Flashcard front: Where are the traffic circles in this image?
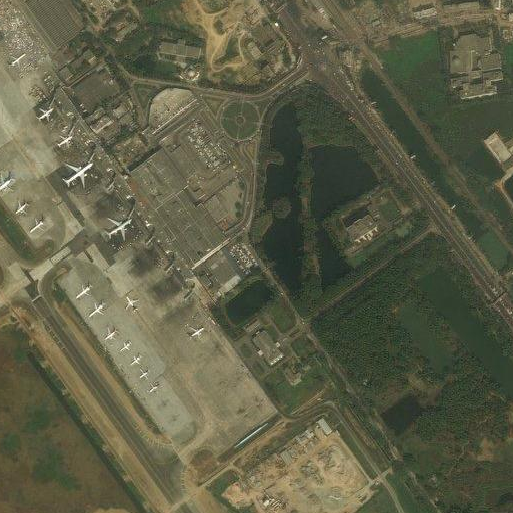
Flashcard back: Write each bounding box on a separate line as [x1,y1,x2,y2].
[221,101,260,139]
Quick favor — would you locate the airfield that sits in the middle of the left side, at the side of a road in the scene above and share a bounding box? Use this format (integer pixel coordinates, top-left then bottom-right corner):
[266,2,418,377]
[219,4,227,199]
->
[0,0,276,513]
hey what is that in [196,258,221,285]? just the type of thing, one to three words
building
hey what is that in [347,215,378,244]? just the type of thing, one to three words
house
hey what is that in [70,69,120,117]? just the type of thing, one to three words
building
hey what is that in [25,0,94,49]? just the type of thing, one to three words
hangar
